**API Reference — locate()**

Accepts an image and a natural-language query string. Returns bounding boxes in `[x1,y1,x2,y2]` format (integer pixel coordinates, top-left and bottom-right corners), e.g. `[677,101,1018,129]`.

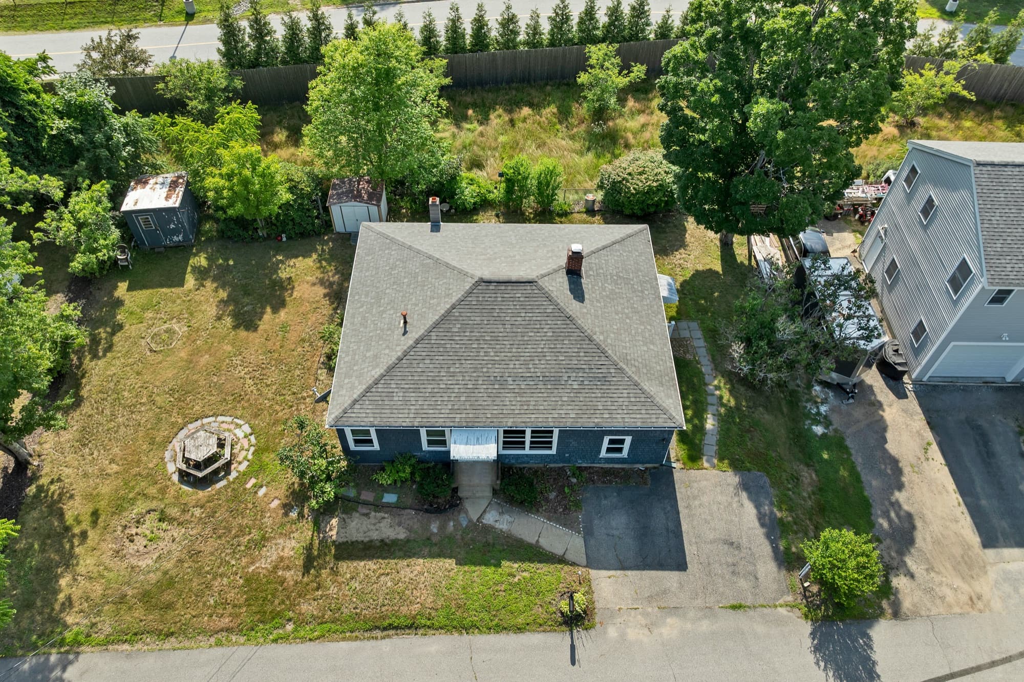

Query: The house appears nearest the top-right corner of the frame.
[856,140,1024,388]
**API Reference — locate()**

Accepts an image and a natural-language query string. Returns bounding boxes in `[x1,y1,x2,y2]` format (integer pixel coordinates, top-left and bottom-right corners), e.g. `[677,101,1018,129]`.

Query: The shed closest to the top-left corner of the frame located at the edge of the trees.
[120,162,203,246]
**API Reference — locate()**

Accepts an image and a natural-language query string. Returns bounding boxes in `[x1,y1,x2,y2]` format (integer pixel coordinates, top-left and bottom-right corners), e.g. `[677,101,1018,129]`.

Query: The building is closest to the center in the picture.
[321,194,682,507]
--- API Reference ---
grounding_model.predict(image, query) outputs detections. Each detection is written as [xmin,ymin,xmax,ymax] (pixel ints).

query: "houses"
[856,140,1024,388]
[321,194,682,507]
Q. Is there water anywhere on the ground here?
No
